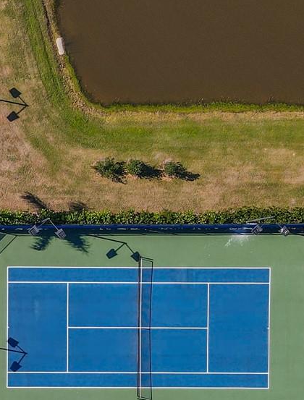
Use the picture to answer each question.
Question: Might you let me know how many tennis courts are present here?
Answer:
1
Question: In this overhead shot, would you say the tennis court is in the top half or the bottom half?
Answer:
bottom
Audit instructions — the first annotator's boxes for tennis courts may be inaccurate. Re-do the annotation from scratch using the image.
[7,267,270,389]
